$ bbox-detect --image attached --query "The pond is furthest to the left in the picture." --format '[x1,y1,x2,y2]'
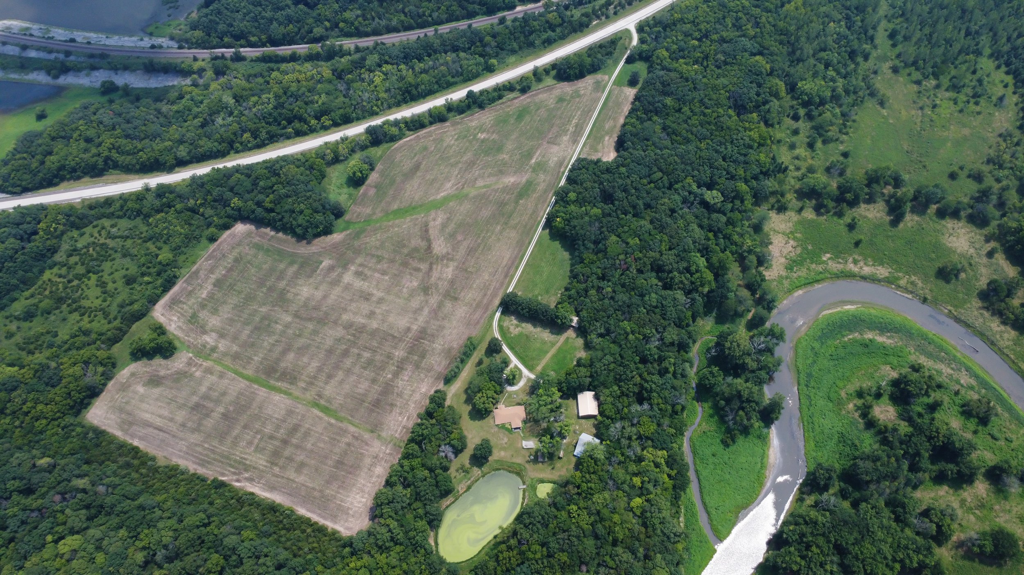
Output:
[436,469,524,562]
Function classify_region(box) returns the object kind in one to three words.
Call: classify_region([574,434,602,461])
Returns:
shed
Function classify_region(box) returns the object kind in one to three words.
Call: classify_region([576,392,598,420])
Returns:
barn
